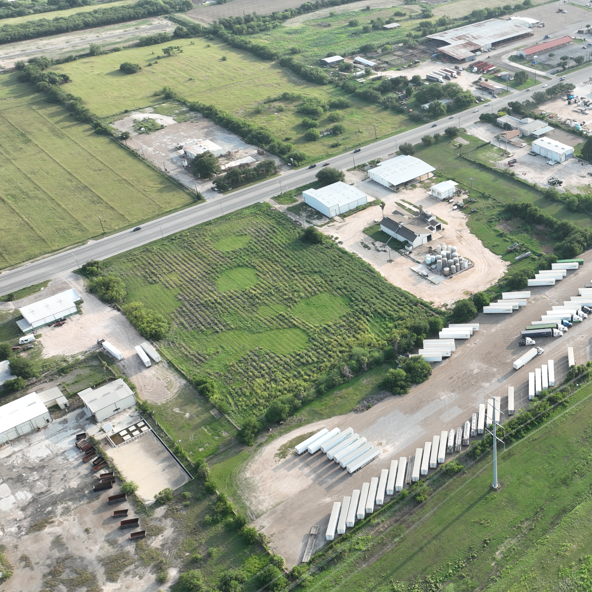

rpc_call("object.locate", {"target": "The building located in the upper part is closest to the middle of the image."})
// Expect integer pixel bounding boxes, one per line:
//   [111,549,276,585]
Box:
[307,180,368,218]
